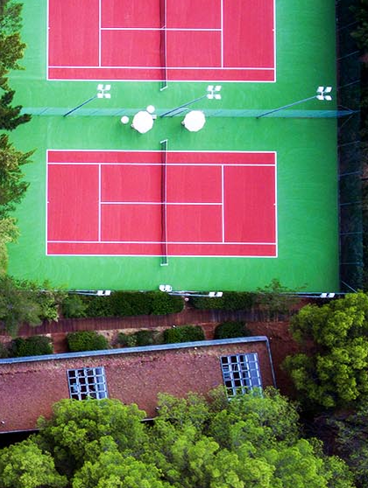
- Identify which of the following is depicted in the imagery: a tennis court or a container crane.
tennis court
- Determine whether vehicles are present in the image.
No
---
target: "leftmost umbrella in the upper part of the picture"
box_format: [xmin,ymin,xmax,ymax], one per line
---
[129,111,153,133]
